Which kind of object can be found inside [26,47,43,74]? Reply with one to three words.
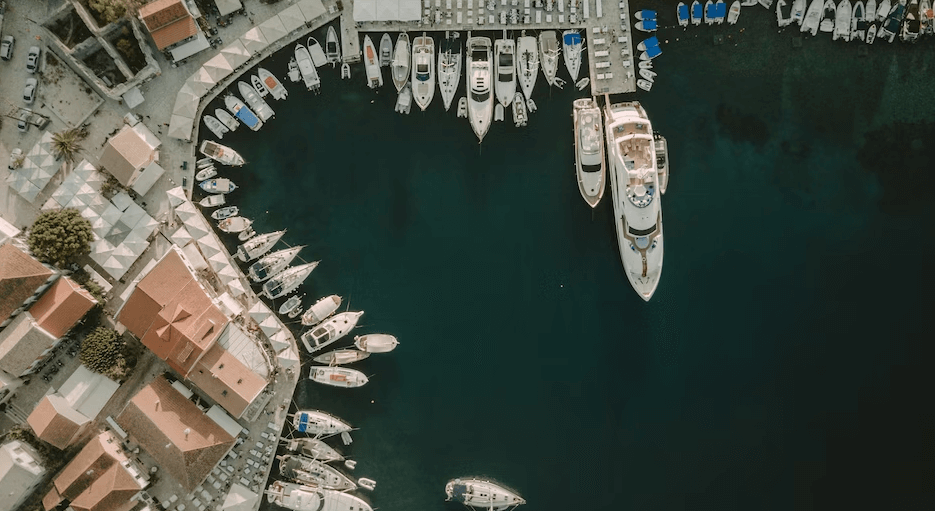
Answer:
car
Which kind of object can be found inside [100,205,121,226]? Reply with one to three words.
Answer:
umbrella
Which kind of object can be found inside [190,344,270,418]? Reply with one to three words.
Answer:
house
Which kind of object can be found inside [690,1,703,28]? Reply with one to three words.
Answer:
boat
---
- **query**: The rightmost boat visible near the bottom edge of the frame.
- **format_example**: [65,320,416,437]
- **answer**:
[444,477,529,511]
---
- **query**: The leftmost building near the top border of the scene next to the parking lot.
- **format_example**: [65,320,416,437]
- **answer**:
[28,0,160,97]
